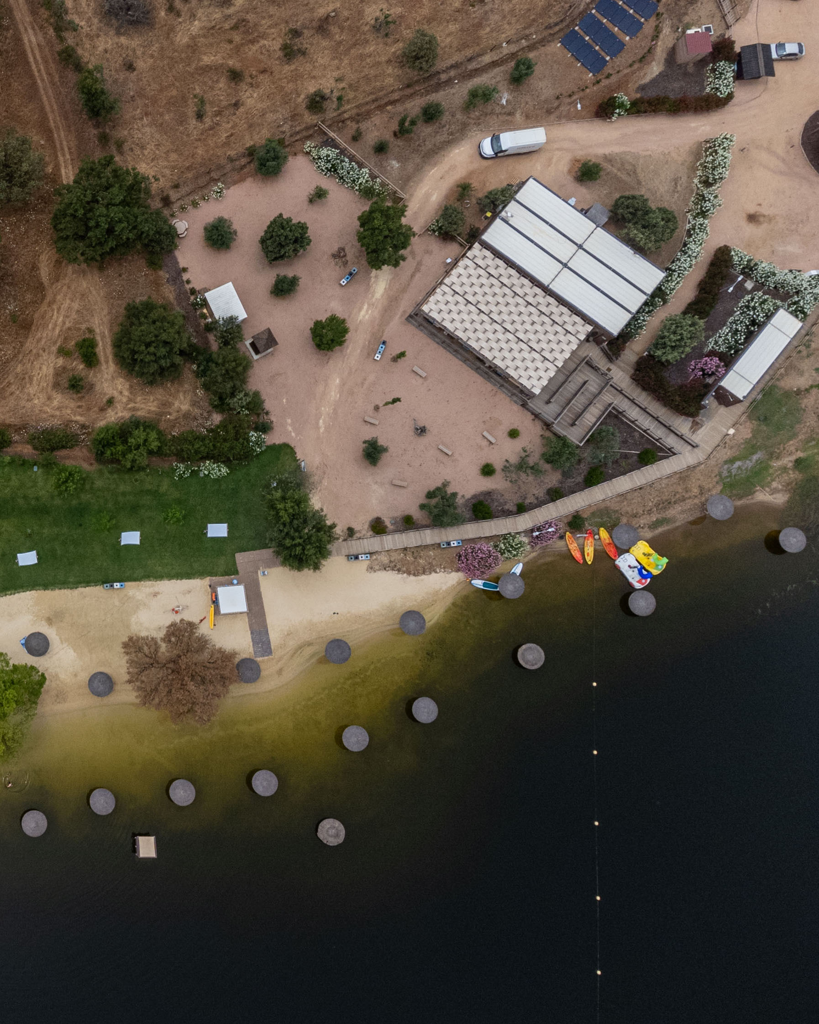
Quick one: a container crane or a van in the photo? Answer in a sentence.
Visible in the photo is a van.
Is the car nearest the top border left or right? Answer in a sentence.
It is on the right.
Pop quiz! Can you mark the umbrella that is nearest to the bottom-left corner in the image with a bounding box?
[23,808,50,835]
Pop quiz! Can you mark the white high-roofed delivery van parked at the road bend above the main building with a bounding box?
[479,124,543,158]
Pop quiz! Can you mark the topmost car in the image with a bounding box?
[771,41,806,63]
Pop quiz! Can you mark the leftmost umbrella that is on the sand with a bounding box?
[24,631,50,657]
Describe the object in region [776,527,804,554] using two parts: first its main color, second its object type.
gray umbrella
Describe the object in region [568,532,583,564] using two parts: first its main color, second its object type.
orange boat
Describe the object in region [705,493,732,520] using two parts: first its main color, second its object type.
gray umbrella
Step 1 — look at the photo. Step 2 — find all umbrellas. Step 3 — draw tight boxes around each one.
[612,523,637,549]
[23,808,50,835]
[170,776,197,804]
[342,723,369,750]
[24,631,50,657]
[252,767,279,795]
[91,786,118,813]
[318,816,345,844]
[627,589,654,616]
[399,609,425,635]
[516,642,544,669]
[705,493,732,520]
[236,657,262,683]
[325,637,351,663]
[89,670,115,696]
[776,527,804,554]
[498,573,524,598]
[411,695,438,722]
